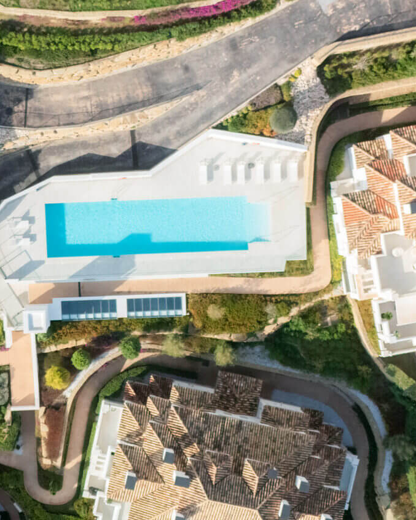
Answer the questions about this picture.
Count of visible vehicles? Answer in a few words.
none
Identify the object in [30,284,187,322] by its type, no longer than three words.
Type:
building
